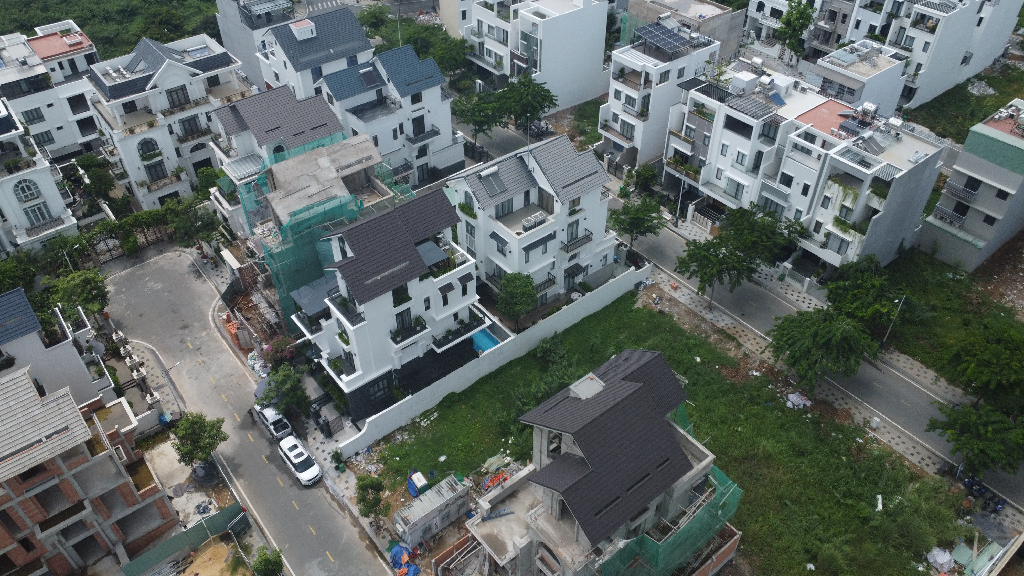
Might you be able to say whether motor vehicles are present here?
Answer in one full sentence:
Yes, there's a motor vehicle down there.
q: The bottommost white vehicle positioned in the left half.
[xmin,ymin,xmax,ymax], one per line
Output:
[280,438,320,484]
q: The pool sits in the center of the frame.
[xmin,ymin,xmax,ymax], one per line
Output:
[470,330,499,355]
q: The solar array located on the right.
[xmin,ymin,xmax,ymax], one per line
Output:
[634,22,694,62]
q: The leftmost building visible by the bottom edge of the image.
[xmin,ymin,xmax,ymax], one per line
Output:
[0,366,180,576]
